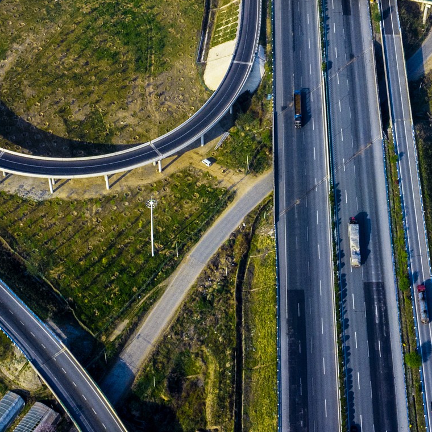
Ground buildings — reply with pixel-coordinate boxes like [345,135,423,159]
[0,393,25,432]
[16,402,61,432]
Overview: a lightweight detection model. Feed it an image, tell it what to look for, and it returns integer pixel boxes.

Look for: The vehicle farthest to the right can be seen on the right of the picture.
[415,288,429,326]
